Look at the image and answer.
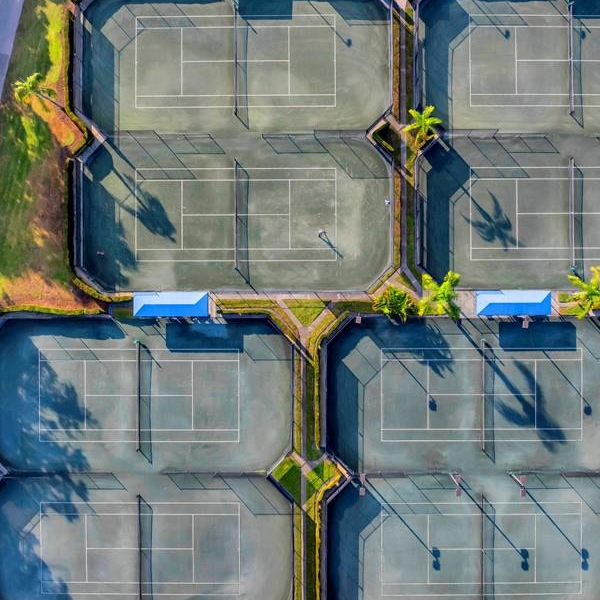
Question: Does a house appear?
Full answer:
No, I find no house anywhere in the image.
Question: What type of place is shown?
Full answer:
It's a sports ground.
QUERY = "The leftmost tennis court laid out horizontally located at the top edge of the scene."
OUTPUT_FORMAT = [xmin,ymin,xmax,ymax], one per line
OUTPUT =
[82,0,390,136]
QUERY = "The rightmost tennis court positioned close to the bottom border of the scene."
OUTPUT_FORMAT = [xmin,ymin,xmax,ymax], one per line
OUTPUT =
[326,473,600,600]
